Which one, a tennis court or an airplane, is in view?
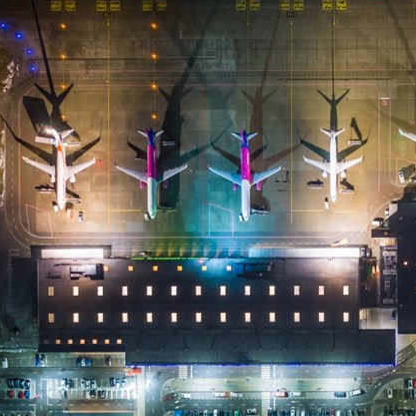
airplane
